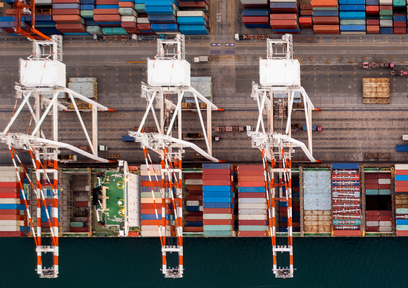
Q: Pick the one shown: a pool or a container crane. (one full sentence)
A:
It is a container crane that can be seen here.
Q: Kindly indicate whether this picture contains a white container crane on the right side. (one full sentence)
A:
Yes, there is a white container crane on the right side.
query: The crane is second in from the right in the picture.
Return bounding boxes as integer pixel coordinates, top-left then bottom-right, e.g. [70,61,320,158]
[131,33,231,281]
